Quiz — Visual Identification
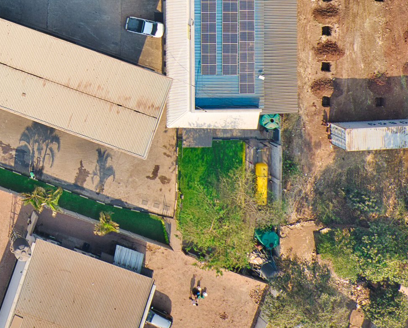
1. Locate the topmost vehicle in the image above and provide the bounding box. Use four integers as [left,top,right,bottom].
[121,17,165,39]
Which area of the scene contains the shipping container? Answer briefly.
right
